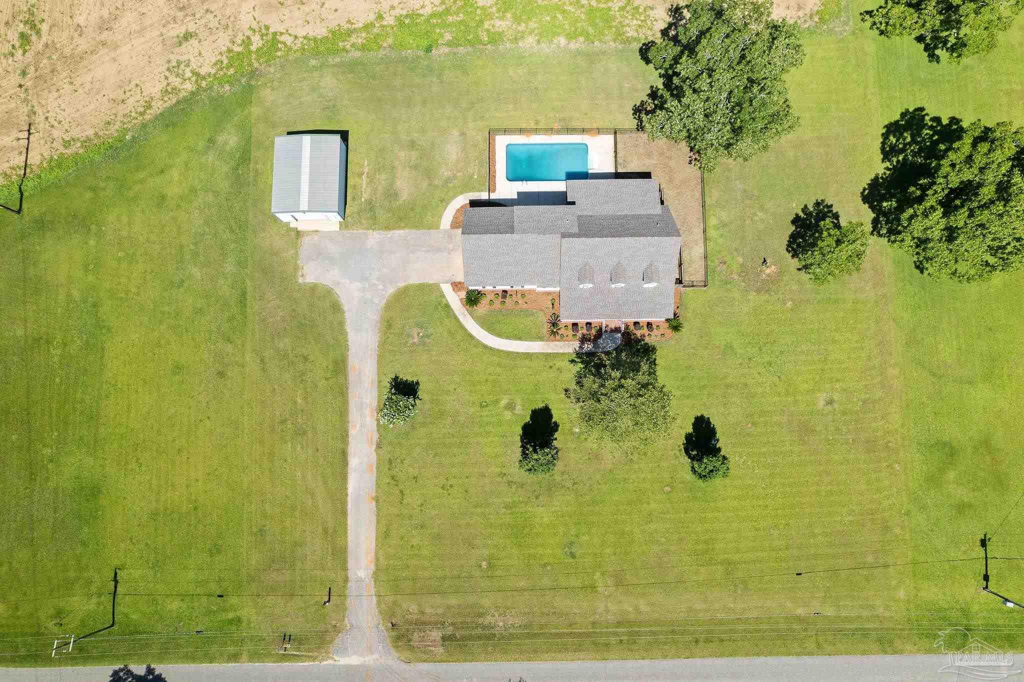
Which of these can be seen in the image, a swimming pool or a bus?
swimming pool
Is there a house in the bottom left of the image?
No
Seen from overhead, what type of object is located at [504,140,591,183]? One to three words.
swimming pool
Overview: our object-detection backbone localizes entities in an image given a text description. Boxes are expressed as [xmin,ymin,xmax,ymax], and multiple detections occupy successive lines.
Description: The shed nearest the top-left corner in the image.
[272,132,346,221]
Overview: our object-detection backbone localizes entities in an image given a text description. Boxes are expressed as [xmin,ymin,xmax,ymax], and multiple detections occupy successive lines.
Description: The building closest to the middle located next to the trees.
[461,178,680,330]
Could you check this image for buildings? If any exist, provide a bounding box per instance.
[272,132,346,221]
[461,178,680,330]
